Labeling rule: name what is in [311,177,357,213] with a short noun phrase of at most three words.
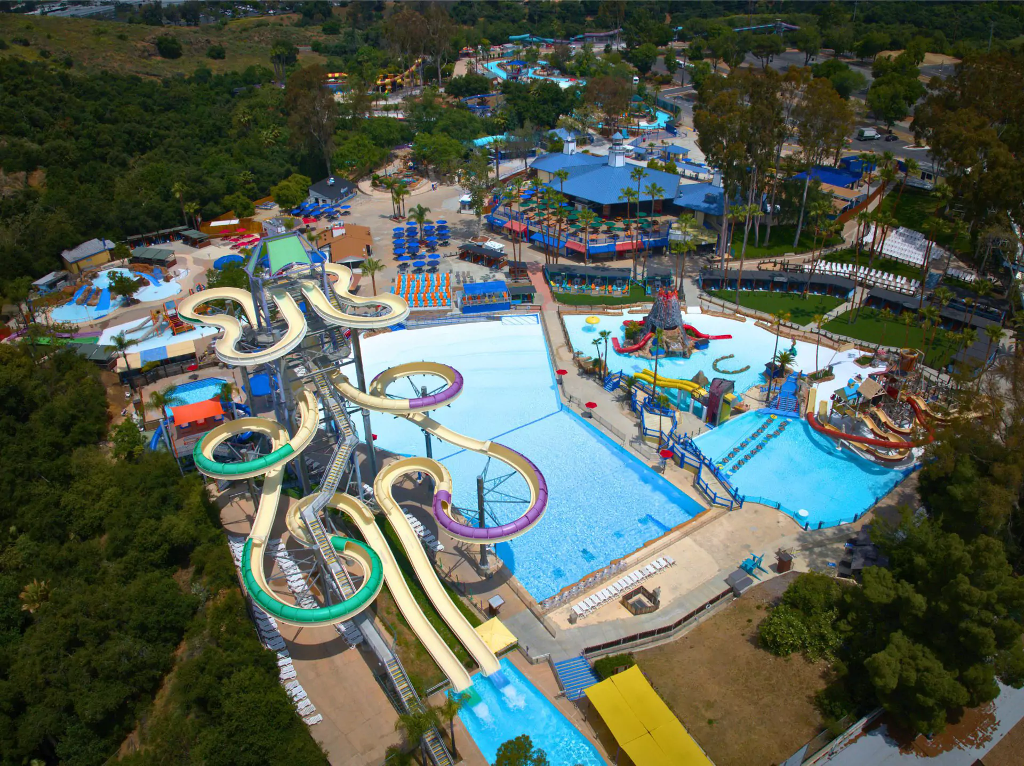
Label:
building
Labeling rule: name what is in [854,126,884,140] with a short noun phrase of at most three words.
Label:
vehicle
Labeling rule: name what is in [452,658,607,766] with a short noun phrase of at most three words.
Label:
swimming pool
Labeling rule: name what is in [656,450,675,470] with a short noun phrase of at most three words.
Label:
umbrella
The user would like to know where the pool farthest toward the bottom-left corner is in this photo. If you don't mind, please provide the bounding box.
[164,377,230,425]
